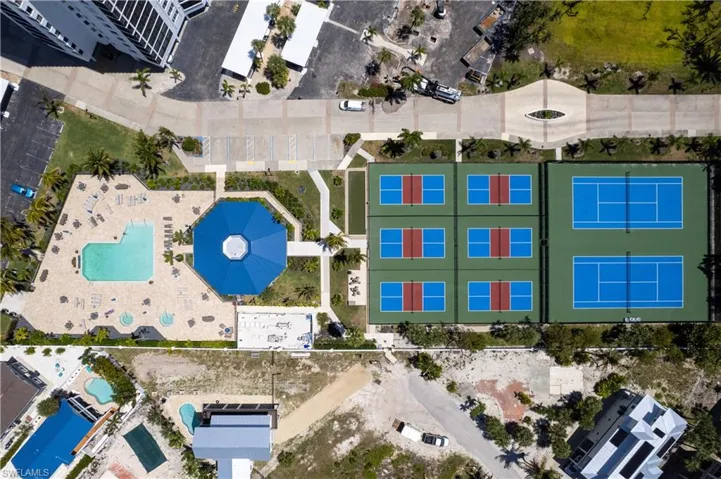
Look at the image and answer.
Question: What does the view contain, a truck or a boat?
truck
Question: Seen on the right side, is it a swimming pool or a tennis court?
tennis court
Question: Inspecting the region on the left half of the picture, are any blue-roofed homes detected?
Yes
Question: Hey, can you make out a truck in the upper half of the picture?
Yes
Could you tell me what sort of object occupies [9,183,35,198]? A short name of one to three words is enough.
car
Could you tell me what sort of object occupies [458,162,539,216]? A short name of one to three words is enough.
sports court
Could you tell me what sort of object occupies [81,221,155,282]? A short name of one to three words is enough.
swimming pool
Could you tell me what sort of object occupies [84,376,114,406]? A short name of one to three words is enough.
swimming pool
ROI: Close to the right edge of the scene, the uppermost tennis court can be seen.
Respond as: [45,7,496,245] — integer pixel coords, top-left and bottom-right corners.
[549,162,708,243]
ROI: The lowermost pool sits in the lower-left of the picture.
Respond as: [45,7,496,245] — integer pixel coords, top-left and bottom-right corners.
[177,402,198,437]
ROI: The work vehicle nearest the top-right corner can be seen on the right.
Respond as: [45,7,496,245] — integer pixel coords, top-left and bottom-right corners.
[467,68,485,85]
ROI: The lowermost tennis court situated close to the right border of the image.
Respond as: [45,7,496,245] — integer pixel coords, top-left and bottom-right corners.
[549,243,708,323]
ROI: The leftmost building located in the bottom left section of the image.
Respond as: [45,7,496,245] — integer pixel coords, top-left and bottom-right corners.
[0,356,53,438]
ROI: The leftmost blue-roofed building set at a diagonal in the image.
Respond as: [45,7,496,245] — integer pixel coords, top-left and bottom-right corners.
[0,391,116,479]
